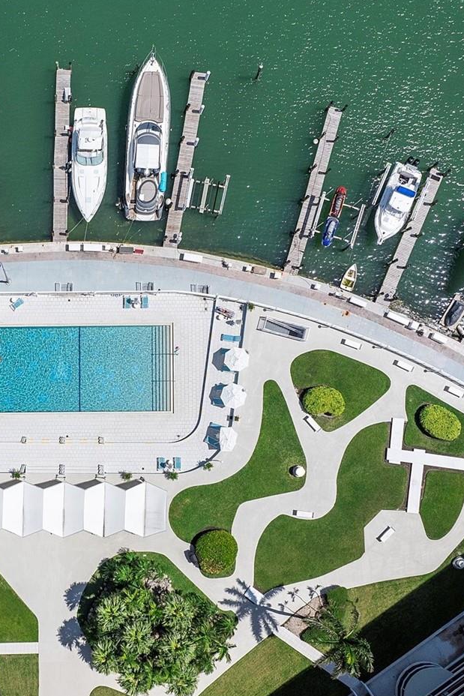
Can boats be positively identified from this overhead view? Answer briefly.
Yes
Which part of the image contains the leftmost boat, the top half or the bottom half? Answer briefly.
top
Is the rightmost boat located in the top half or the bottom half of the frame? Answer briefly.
top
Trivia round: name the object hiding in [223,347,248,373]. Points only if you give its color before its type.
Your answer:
white umbrella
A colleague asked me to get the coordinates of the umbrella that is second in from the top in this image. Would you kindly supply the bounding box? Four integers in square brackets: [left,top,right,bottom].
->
[221,383,246,409]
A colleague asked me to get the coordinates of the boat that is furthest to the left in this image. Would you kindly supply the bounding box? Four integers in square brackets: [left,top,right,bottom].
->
[69,107,108,225]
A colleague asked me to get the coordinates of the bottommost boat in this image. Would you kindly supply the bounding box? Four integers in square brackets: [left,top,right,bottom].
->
[340,265,357,292]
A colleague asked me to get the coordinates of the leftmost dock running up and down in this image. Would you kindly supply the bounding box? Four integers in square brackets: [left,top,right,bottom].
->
[50,66,74,241]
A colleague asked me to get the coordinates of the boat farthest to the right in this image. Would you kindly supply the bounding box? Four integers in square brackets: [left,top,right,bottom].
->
[373,156,422,247]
